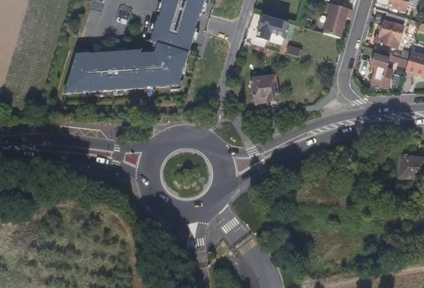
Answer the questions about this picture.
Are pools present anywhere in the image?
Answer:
No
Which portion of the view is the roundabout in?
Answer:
center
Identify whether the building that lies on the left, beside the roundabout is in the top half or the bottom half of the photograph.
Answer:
top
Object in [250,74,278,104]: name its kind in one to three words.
house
